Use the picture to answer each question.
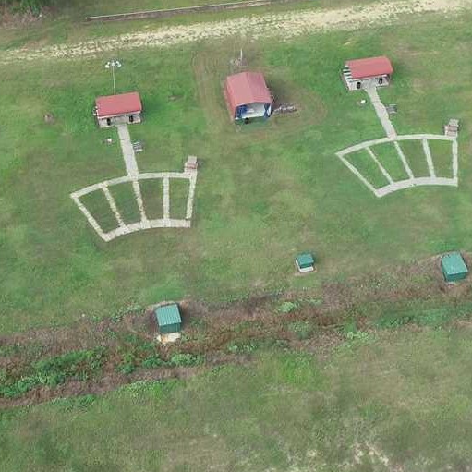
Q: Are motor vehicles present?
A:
No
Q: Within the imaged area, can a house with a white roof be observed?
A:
No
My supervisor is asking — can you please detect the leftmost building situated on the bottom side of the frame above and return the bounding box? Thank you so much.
[156,302,181,331]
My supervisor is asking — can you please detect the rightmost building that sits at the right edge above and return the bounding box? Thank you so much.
[438,251,467,278]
